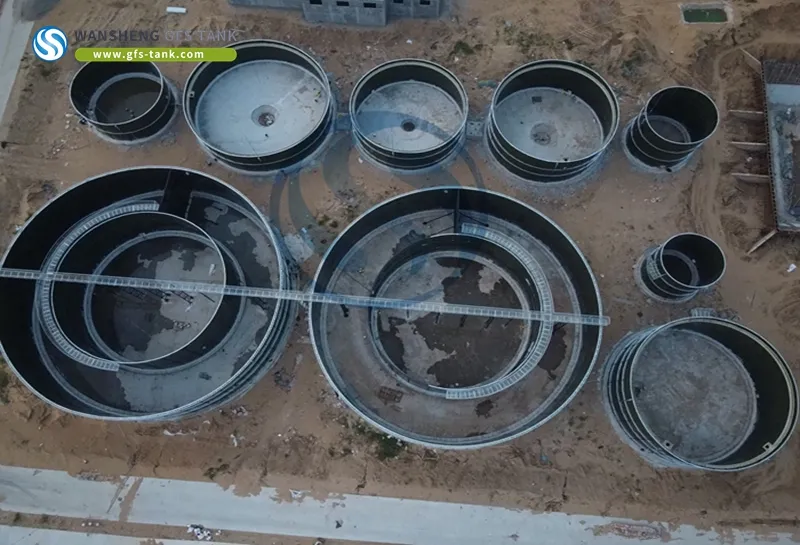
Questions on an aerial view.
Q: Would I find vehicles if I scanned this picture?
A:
No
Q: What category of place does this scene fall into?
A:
industrial area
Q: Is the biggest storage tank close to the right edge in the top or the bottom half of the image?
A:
bottom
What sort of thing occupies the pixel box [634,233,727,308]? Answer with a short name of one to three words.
storage tank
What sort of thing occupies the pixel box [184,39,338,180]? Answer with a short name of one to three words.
storage tank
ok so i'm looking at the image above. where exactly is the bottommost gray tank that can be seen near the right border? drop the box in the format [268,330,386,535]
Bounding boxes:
[599,317,798,474]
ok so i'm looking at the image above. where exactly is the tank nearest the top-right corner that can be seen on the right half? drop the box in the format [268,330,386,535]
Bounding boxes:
[620,86,720,176]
